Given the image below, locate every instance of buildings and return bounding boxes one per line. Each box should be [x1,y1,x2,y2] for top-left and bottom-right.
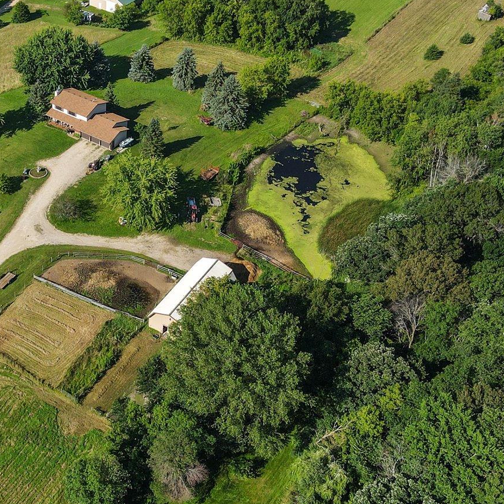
[478,5,499,21]
[148,258,236,342]
[48,86,126,151]
[90,0,139,12]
